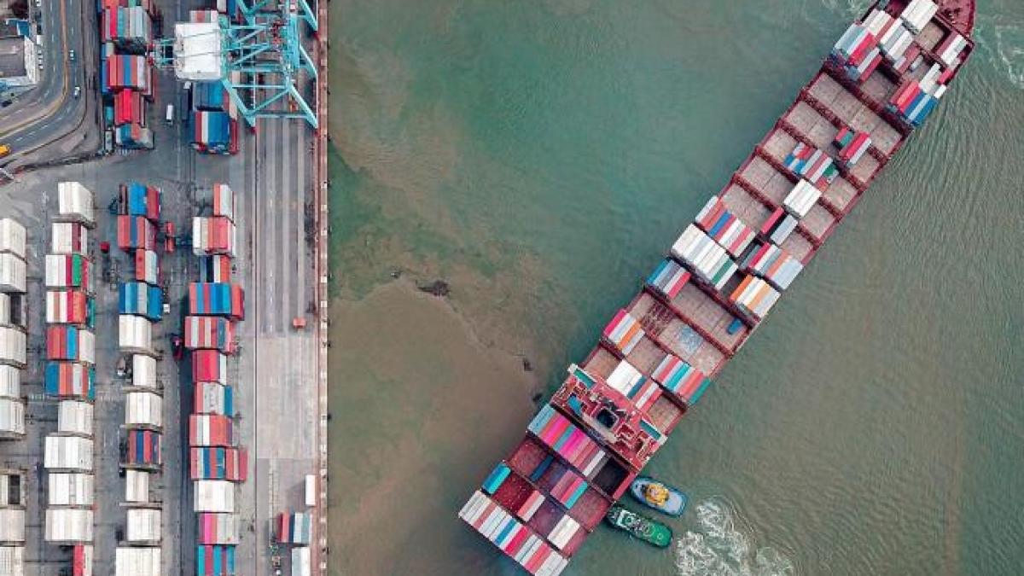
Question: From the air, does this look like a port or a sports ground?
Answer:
port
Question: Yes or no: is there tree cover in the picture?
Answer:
No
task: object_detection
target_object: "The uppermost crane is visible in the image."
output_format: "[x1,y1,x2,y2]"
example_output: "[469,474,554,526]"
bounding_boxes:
[236,0,319,37]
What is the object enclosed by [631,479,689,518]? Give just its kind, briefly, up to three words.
boat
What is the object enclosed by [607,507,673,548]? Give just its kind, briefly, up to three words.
boat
